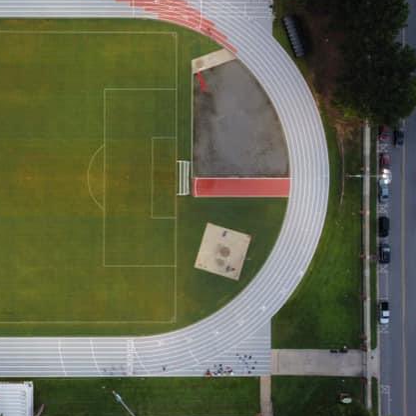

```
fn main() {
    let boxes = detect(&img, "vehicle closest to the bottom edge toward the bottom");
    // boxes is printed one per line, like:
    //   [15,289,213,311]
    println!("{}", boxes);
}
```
[379,300,392,324]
